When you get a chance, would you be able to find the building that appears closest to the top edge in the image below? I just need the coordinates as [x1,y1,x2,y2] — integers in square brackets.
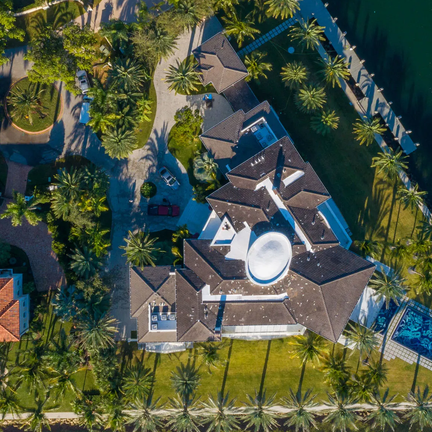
[192,31,250,93]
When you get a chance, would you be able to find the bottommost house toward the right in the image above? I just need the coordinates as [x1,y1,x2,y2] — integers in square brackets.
[130,100,407,353]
